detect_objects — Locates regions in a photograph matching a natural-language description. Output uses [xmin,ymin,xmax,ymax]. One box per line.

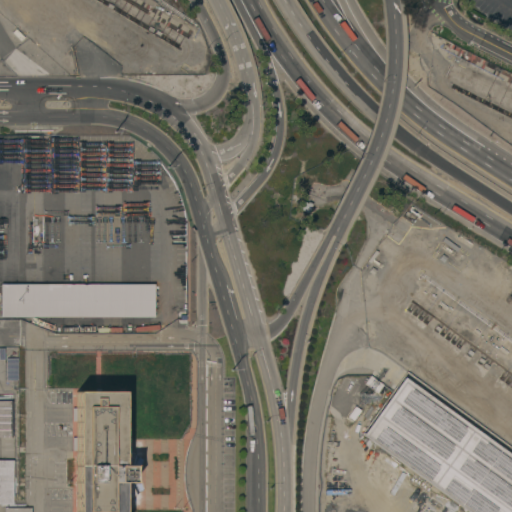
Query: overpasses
[265,0,409,450]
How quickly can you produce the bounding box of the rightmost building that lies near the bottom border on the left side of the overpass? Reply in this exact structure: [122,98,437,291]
[77,391,142,512]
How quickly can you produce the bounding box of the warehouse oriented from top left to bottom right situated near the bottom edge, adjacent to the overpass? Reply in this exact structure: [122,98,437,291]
[364,377,512,512]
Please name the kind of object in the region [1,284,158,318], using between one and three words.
building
